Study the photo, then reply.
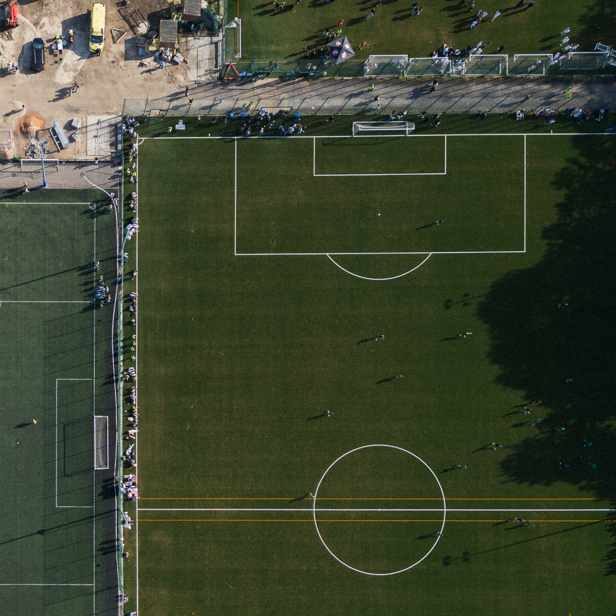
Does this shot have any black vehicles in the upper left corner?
Yes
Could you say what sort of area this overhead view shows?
sports ground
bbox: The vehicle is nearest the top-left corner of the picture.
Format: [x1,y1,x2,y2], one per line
[4,0,21,27]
